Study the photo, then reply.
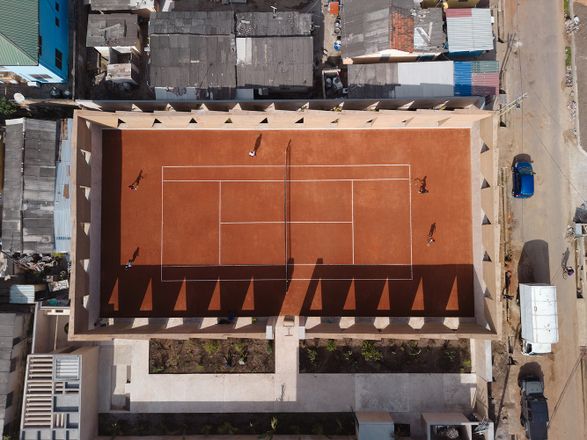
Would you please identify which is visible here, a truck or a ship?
truck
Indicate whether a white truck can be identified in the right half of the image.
Yes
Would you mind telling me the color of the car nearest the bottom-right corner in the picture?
black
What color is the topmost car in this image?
blue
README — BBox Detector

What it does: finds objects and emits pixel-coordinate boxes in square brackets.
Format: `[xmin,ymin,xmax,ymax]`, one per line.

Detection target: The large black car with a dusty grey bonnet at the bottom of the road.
[517,378,548,440]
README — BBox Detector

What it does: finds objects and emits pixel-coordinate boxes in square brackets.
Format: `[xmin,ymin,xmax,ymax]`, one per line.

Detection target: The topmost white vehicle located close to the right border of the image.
[513,281,558,352]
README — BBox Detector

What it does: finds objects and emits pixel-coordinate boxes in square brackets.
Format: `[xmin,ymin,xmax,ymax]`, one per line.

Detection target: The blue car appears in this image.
[510,158,535,198]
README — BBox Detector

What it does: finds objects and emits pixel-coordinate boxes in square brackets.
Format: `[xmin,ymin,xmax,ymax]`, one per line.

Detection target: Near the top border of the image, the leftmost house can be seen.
[0,0,68,86]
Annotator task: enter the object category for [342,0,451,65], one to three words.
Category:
house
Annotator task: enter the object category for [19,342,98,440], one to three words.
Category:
building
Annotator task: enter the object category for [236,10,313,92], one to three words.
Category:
shed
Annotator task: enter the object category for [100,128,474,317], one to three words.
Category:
tennis court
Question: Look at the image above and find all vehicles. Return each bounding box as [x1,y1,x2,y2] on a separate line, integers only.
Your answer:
[510,158,535,198]
[513,281,558,352]
[517,378,548,440]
